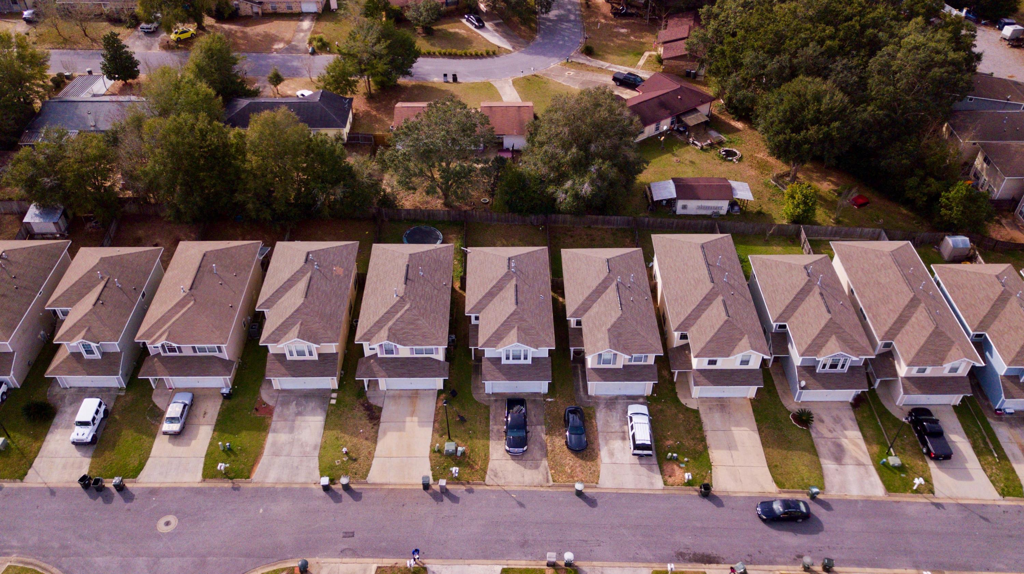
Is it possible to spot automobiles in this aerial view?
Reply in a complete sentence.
Yes, an automobile appears in the view.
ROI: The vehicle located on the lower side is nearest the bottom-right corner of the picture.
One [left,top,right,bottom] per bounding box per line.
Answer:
[910,402,960,459]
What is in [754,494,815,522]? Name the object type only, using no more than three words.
car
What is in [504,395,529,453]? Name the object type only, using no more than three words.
truck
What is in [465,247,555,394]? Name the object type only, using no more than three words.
house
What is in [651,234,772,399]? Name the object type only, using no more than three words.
house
